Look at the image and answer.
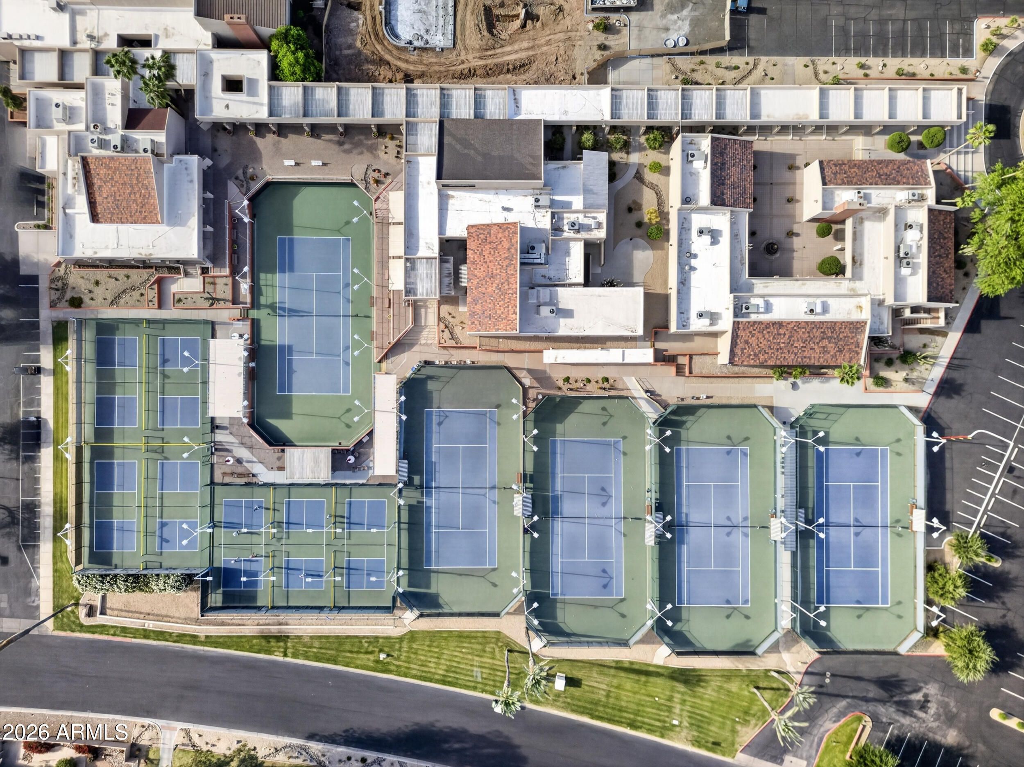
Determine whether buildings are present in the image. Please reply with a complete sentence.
Yes, you can see a building in this photo.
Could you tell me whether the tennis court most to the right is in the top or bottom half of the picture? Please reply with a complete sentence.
The bottom half of the photo is where the tennis court most to the right is.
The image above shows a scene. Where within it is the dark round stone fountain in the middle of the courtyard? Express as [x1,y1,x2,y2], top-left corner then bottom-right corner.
[762,238,781,257]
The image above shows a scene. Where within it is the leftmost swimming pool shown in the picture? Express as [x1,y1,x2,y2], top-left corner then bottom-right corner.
[384,0,454,47]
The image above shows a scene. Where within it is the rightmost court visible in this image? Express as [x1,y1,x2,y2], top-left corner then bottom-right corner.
[791,404,916,649]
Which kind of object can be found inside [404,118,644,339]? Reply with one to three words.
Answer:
building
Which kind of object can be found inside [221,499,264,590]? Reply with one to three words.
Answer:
sports court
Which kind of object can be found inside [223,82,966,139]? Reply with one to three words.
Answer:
building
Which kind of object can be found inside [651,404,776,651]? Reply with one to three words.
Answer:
tennis court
